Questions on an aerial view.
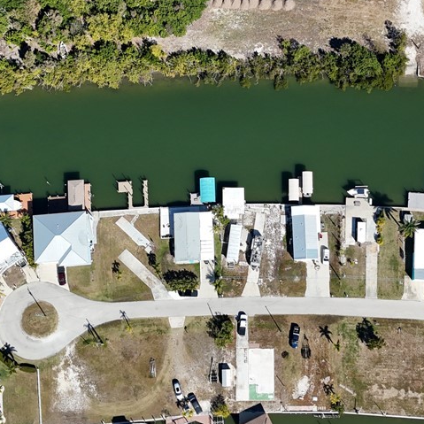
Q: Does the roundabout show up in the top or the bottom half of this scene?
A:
bottom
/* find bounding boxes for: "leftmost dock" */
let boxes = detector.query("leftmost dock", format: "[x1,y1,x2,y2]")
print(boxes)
[9,192,35,217]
